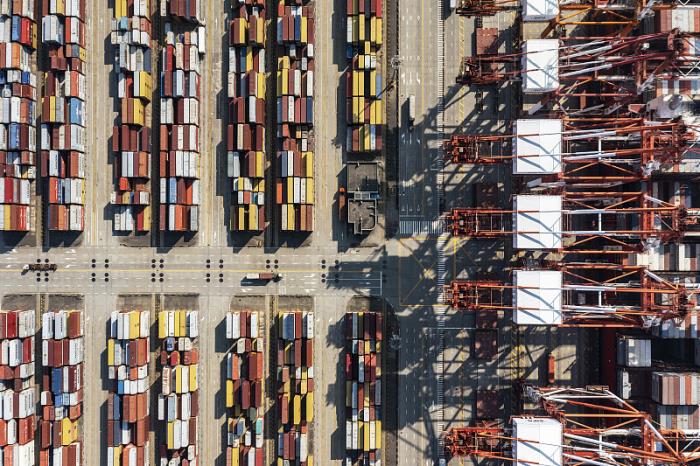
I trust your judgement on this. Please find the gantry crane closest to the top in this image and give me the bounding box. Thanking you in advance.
[449,0,700,75]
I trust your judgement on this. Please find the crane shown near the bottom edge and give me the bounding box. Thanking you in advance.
[440,366,700,466]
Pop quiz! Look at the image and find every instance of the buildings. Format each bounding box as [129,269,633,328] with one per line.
[347,161,380,234]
